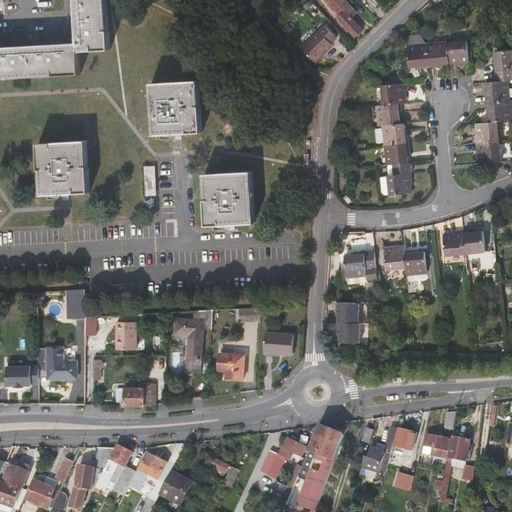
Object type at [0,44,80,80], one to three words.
building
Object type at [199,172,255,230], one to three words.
building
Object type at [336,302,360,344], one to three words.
house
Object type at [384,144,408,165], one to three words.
house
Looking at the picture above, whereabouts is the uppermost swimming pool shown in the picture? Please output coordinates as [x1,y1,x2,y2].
[47,302,64,318]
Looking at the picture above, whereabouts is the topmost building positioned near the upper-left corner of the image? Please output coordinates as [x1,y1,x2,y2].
[70,0,110,54]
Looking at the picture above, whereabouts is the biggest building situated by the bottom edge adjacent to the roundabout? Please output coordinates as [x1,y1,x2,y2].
[297,446,333,512]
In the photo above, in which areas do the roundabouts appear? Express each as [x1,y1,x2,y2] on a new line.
[290,364,346,420]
